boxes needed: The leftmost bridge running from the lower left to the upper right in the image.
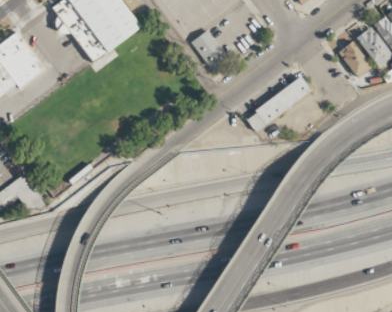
[54,135,190,312]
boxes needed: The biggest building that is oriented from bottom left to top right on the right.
[256,76,312,126]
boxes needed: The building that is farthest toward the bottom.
[0,178,46,209]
